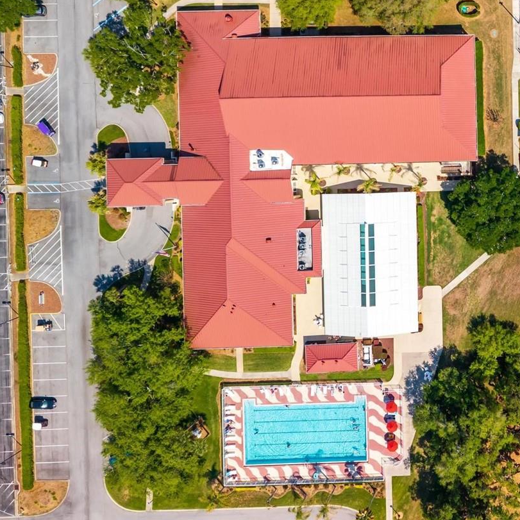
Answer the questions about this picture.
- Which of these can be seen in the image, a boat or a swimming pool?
swimming pool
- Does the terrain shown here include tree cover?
Yes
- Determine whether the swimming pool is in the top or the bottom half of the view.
bottom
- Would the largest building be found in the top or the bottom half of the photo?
top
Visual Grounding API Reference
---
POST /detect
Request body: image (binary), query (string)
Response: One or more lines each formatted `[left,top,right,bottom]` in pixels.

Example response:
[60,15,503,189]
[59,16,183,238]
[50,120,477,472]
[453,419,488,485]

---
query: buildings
[106,9,478,350]
[305,342,359,374]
